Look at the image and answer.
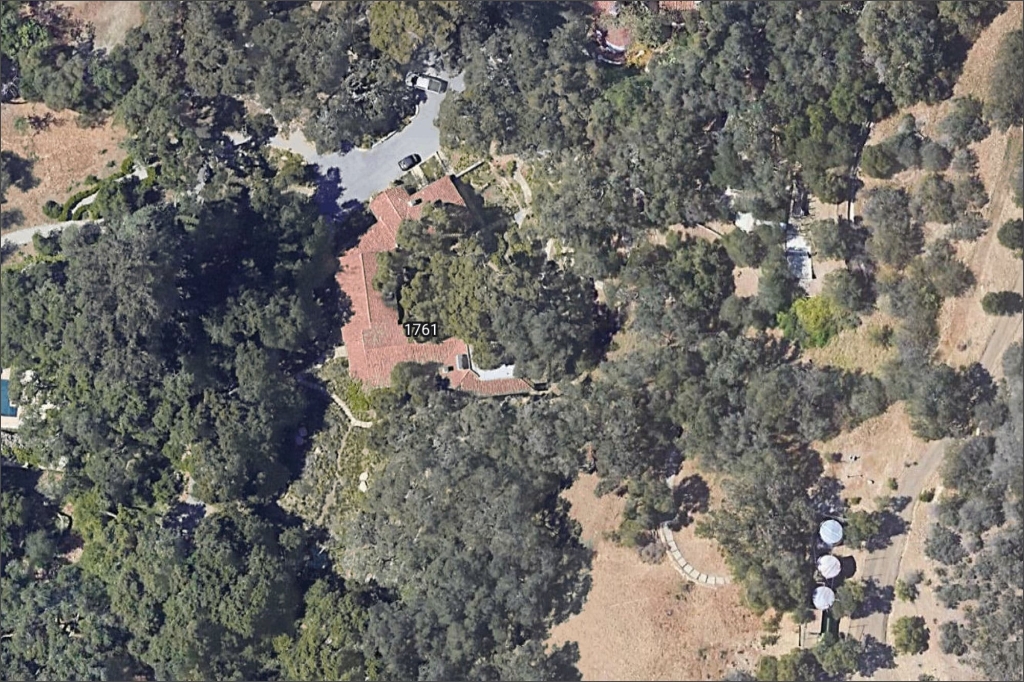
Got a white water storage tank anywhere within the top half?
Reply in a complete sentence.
No, no white water storage tank appears within the top half.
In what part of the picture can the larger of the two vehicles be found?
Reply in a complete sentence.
You can find the larger of the two vehicles in the top area of the picture.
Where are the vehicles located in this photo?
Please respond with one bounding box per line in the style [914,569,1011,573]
[404,74,443,94]
[396,152,423,171]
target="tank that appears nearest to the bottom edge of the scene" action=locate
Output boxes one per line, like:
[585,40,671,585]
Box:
[810,585,835,609]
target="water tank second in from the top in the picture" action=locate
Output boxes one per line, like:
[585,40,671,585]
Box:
[815,555,841,580]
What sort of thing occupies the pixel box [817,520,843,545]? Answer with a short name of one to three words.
water tank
